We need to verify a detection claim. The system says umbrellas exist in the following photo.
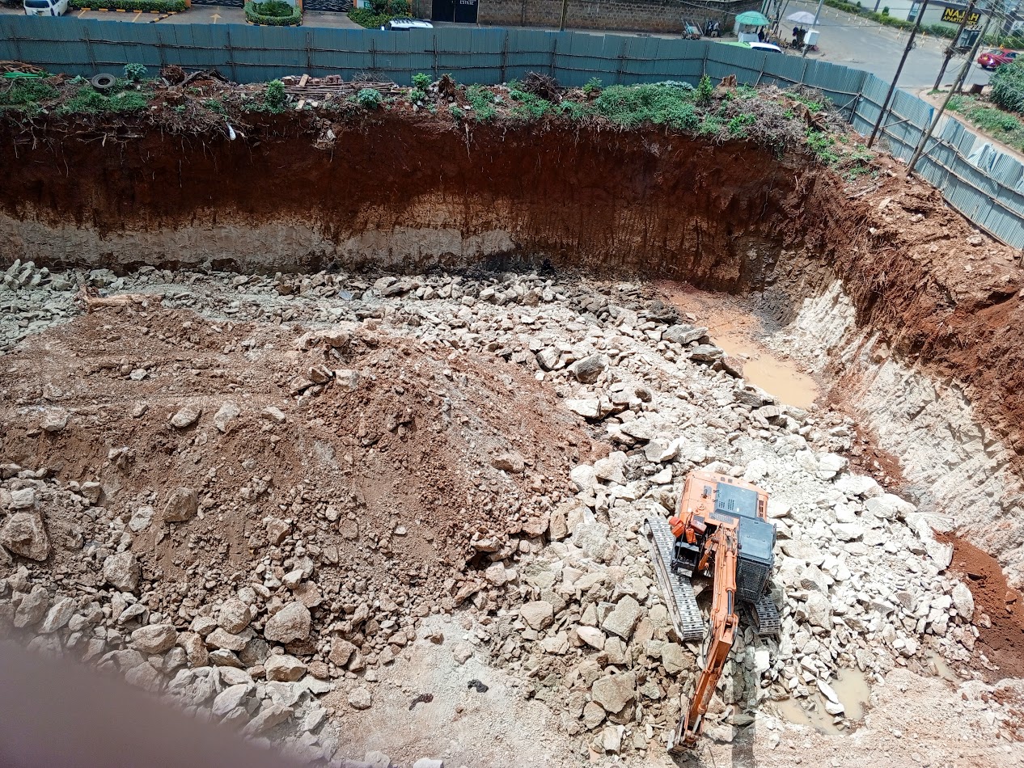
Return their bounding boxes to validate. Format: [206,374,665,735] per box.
[782,12,821,46]
[730,10,772,39]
